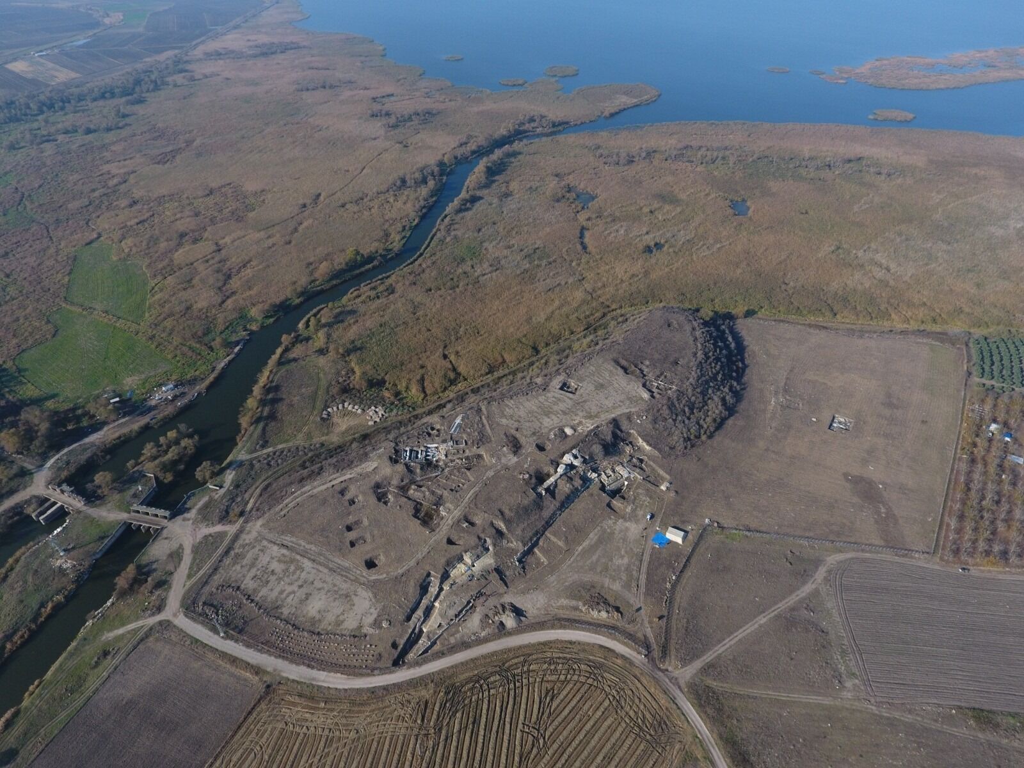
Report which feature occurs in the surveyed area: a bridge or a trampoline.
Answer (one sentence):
The image shows a bridge.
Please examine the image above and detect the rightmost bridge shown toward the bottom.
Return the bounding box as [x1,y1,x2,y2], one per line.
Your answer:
[124,503,173,535]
